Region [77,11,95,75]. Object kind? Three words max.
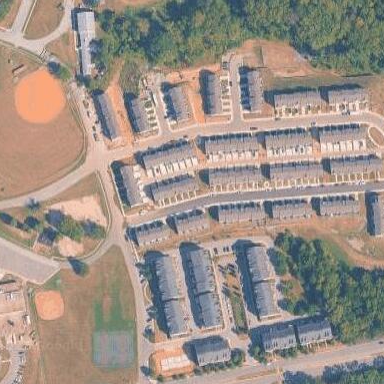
shed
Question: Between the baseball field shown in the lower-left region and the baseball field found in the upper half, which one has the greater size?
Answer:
the baseball field found in the upper half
